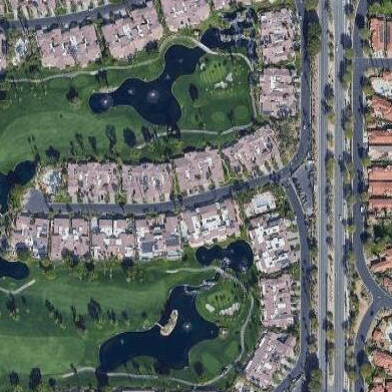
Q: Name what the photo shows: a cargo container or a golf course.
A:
golf course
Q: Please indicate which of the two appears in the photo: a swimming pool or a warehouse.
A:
swimming pool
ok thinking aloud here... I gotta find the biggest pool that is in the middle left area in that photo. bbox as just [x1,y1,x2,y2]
[44,168,63,192]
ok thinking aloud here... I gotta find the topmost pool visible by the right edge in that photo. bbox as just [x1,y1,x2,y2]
[370,76,391,97]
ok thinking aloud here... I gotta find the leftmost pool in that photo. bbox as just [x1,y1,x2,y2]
[15,37,31,57]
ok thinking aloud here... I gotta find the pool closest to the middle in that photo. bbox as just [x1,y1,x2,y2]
[250,192,277,213]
